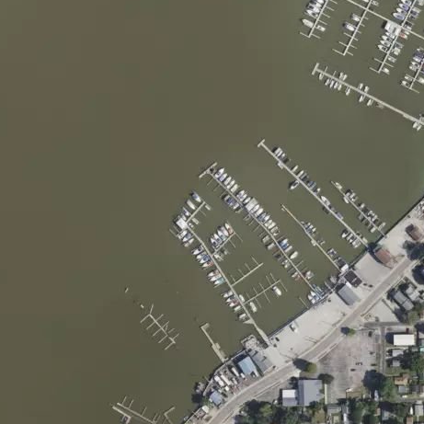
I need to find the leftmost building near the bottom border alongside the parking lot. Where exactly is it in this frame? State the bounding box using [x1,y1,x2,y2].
[299,380,323,406]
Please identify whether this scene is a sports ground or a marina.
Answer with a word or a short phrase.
marina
